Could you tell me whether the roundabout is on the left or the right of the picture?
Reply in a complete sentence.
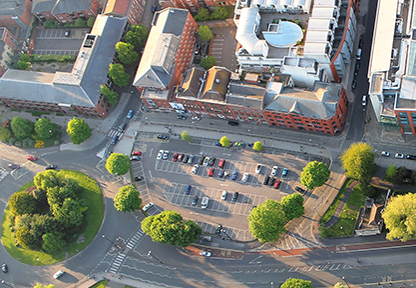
The roundabout is on the left side of the image.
